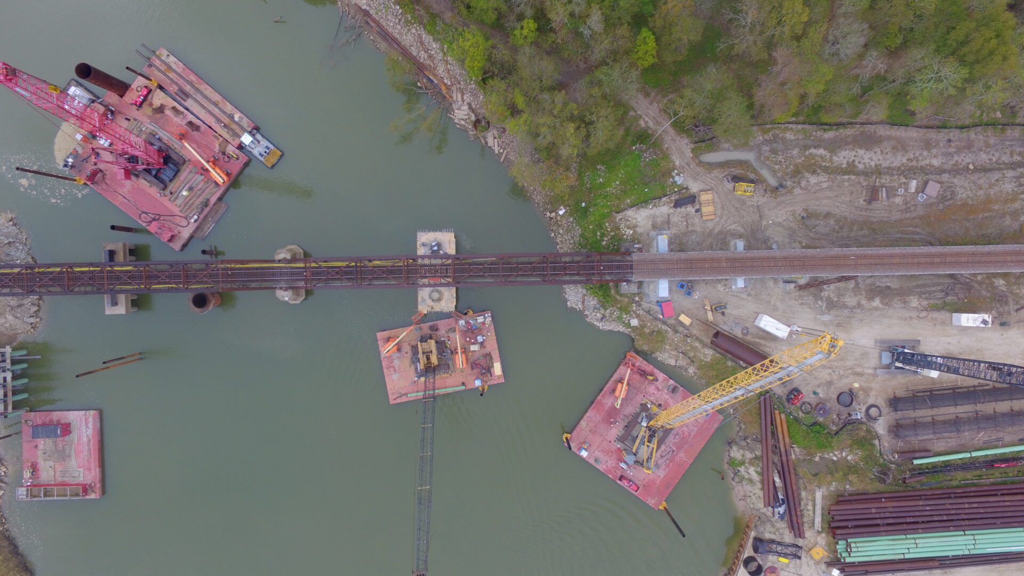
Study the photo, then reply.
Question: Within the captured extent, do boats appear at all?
Yes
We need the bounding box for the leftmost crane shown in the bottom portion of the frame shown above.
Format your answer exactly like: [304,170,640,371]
[410,336,452,576]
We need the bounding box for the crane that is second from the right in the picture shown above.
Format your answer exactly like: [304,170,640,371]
[618,328,877,473]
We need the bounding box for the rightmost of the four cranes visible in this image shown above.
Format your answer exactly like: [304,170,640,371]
[878,340,1024,386]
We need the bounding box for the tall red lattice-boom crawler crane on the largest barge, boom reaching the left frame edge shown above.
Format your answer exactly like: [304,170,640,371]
[0,64,185,190]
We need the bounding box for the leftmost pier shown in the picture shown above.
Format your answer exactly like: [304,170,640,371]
[0,345,41,417]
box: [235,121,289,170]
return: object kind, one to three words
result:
boat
